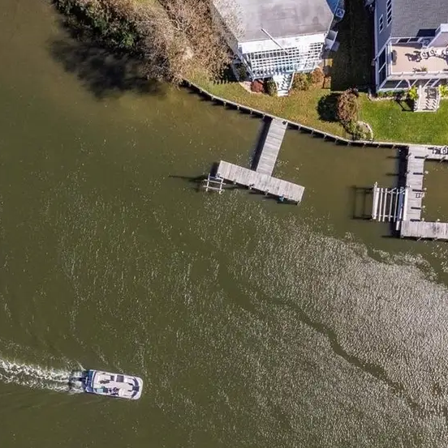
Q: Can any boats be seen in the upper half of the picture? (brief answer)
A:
No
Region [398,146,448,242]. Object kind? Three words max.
pier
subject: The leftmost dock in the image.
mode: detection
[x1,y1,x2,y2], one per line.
[216,118,304,206]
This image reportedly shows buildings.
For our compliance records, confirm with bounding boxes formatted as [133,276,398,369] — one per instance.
[375,0,448,110]
[214,0,340,104]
